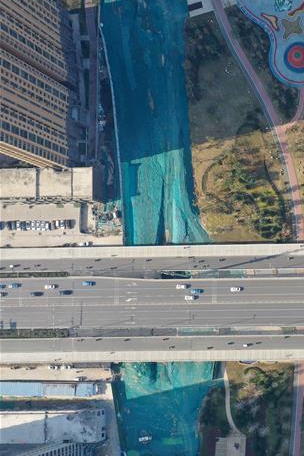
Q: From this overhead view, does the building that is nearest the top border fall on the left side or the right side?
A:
left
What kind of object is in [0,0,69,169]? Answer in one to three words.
building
